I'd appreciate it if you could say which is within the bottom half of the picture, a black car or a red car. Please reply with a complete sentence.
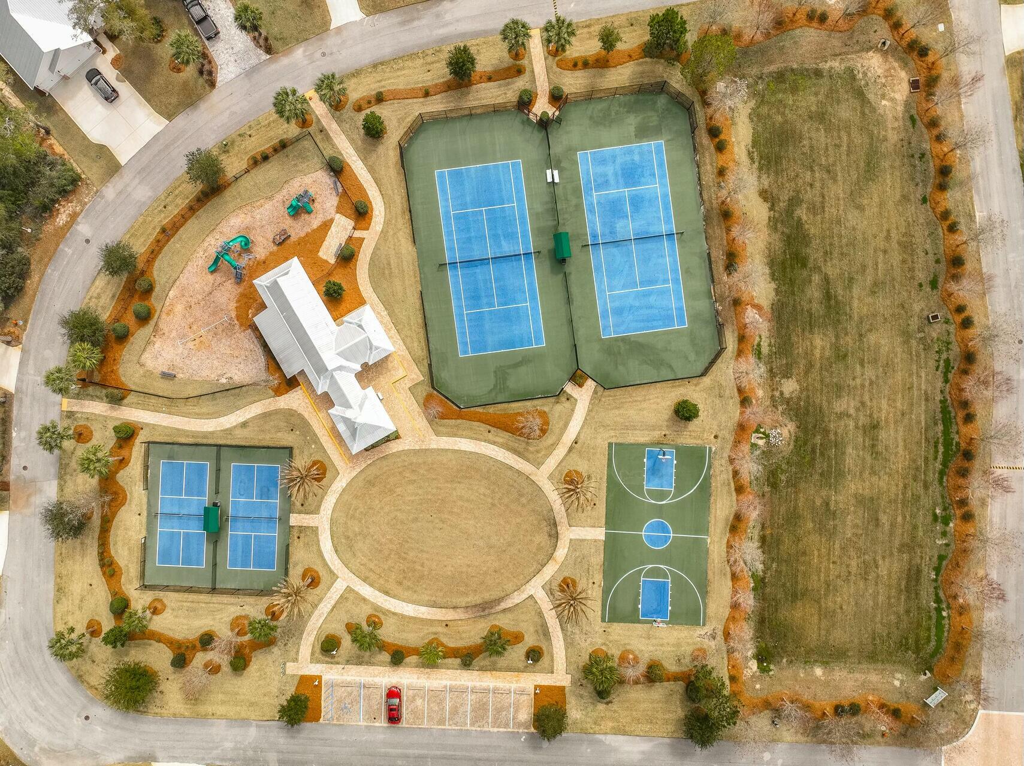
Looking within the bottom half of the picture, you will find a red car.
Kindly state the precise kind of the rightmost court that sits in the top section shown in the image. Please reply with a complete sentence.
Looking closely, the rightmost court that sits in the top section is a tennis court.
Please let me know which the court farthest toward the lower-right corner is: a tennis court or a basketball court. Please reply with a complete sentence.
Specifically, the court farthest toward the lower-right corner is a basketball court.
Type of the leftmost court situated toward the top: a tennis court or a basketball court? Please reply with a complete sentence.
What you see as the leftmost court situated toward the top is a tennis court.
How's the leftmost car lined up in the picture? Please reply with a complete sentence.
I'd say the leftmost car is aligned diagonally in the picture.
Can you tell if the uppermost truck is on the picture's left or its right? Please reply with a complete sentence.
The uppermost truck appears in the left half of the scene.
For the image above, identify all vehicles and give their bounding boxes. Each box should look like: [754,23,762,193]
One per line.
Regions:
[385,686,402,725]
[180,0,219,42]
[85,65,119,105]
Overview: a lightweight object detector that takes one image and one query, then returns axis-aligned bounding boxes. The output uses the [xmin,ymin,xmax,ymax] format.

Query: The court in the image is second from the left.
[215,447,291,591]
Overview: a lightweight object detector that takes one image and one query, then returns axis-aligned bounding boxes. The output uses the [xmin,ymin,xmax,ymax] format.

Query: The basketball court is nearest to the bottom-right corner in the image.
[602,443,711,626]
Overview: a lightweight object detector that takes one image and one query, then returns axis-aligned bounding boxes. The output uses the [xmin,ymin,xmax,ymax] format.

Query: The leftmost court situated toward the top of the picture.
[404,110,578,408]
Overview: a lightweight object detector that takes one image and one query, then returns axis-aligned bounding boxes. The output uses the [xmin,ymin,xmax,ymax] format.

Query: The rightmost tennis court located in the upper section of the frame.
[545,91,719,388]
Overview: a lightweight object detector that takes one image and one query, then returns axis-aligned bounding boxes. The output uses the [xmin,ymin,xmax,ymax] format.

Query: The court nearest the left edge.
[144,445,219,588]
